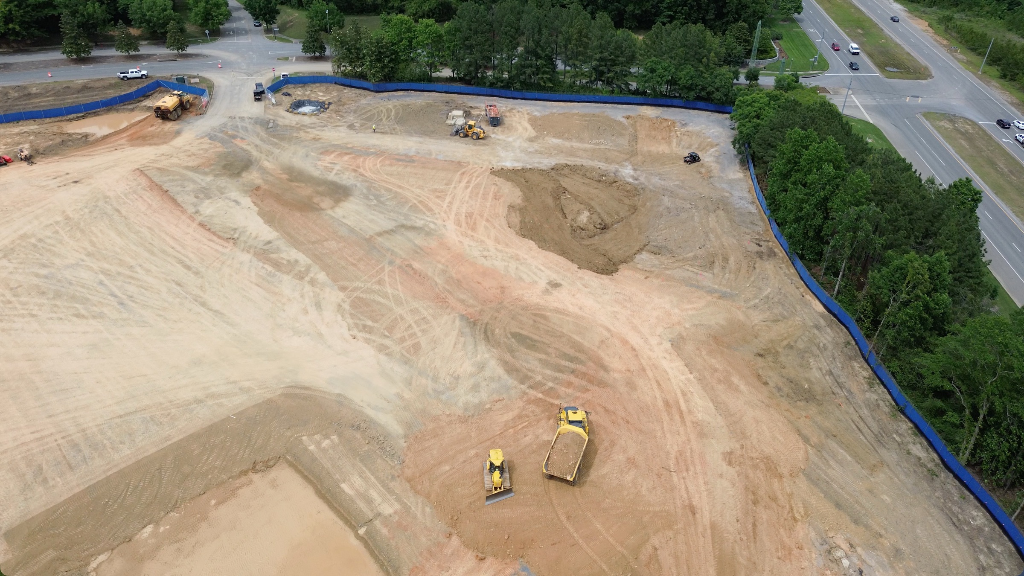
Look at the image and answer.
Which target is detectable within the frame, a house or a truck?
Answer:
truck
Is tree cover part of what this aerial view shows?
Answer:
Yes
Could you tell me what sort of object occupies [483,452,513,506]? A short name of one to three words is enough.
work vehicle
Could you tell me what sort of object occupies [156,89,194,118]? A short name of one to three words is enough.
truck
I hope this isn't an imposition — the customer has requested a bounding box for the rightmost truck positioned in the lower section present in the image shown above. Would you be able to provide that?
[543,409,588,487]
